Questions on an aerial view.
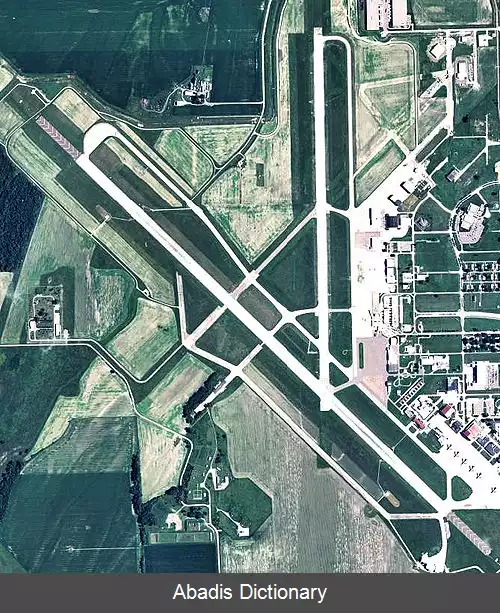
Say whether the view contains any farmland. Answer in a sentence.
Yes, farmland shows up in the scene.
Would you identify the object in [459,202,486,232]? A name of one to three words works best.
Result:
building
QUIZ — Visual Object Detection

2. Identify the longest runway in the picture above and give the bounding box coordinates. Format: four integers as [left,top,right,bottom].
[35,115,493,559]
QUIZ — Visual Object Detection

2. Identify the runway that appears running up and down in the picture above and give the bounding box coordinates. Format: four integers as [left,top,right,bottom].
[314,27,331,411]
